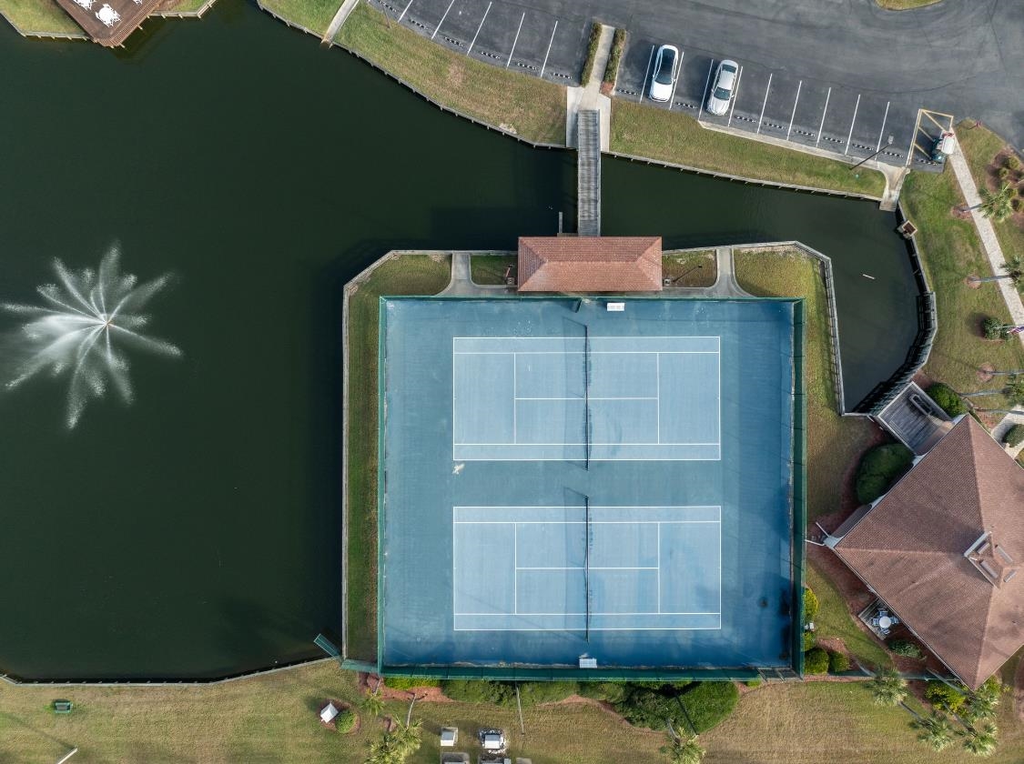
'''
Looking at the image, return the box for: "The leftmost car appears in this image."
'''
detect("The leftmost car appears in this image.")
[650,43,680,104]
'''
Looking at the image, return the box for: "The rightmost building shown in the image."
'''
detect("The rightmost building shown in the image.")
[806,414,1024,686]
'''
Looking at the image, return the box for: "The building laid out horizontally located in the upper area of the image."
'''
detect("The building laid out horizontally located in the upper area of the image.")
[517,236,663,295]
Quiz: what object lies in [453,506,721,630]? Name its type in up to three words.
tennis court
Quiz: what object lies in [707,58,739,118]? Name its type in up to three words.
car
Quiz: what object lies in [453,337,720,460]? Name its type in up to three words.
tennis court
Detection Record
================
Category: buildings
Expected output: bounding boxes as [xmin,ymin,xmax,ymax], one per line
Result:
[517,236,663,295]
[321,703,339,722]
[806,414,1024,686]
